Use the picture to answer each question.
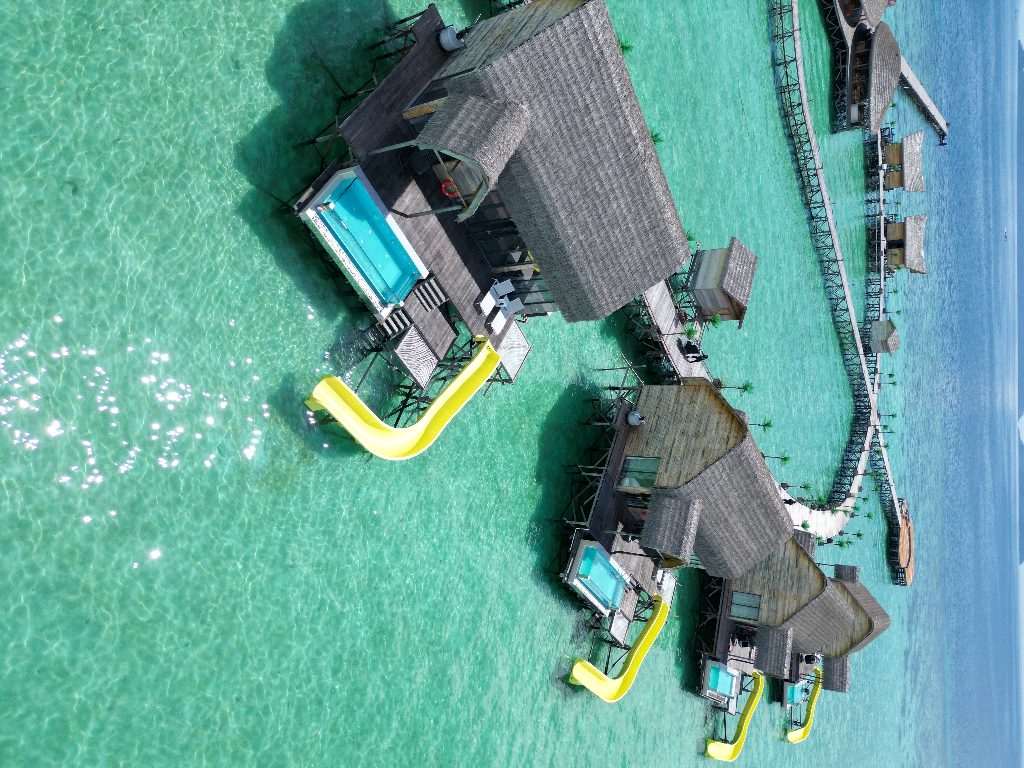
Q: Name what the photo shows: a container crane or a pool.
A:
pool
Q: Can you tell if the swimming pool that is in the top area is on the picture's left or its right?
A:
left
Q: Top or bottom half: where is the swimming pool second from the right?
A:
bottom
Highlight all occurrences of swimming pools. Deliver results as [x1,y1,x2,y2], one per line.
[678,657,742,720]
[766,680,810,721]
[245,156,431,338]
[531,534,632,635]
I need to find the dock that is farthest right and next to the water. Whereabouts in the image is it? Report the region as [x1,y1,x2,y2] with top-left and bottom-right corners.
[896,51,948,139]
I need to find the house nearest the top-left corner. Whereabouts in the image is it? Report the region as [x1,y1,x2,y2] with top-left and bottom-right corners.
[282,0,693,409]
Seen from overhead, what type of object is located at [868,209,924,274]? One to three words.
house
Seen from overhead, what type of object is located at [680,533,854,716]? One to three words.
house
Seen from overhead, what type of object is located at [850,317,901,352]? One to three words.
shed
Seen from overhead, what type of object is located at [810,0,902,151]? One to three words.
building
